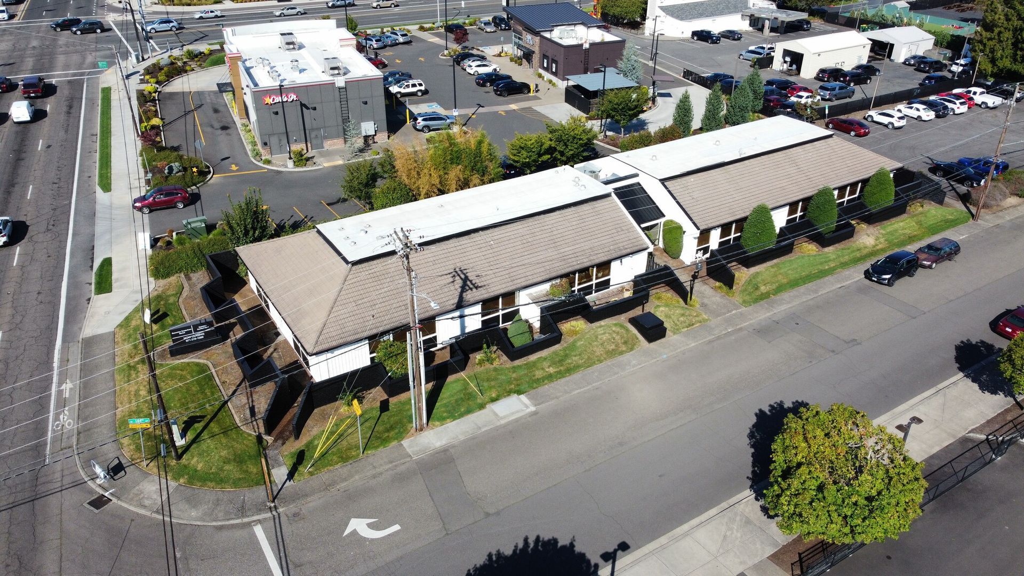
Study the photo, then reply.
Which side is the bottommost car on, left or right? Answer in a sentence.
The bottommost car appears in the right half of the scene.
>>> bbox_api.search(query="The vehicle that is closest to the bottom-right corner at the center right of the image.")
[991,300,1024,335]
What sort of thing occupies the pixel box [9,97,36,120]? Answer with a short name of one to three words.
vehicle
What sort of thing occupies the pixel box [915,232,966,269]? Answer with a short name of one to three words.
car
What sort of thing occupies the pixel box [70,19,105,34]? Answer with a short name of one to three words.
car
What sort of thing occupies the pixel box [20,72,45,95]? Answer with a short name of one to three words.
vehicle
